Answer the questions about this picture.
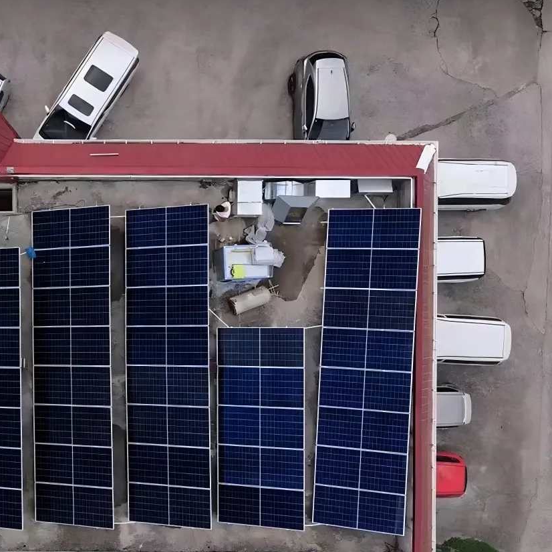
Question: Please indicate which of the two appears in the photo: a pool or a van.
van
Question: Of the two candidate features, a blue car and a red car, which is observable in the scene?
red car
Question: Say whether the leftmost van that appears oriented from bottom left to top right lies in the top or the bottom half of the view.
top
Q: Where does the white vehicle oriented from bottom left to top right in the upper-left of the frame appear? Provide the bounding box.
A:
[38,34,136,137]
